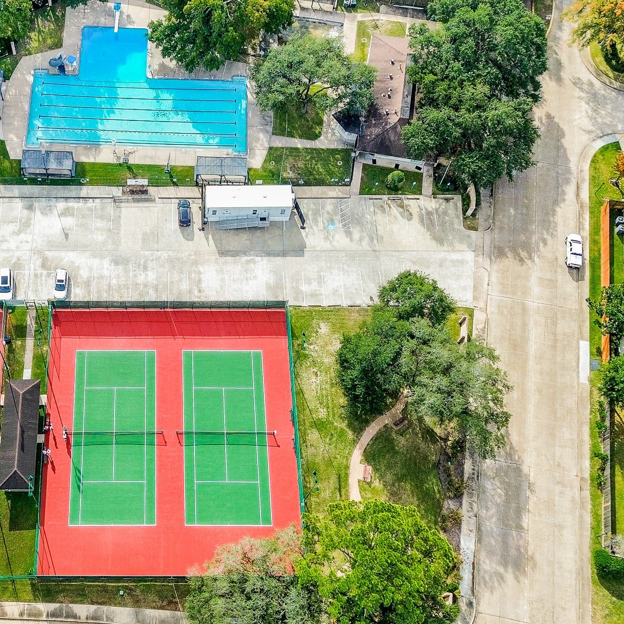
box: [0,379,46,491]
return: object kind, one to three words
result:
building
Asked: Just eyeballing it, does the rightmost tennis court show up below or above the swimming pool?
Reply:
below it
